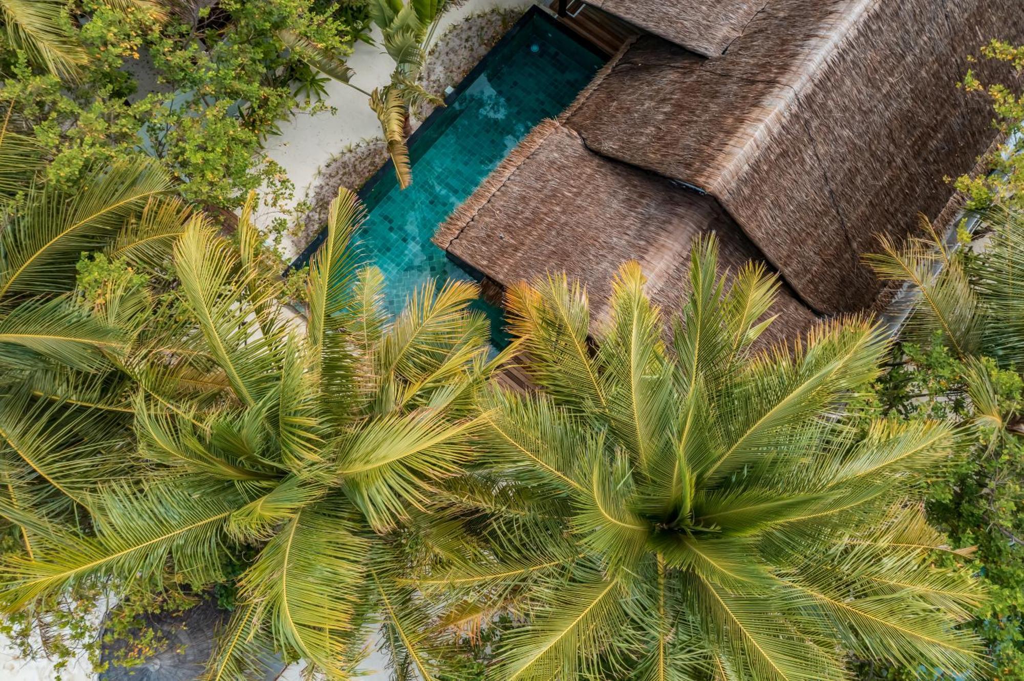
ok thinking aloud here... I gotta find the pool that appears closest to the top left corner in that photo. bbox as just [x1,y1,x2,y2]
[259,9,613,400]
